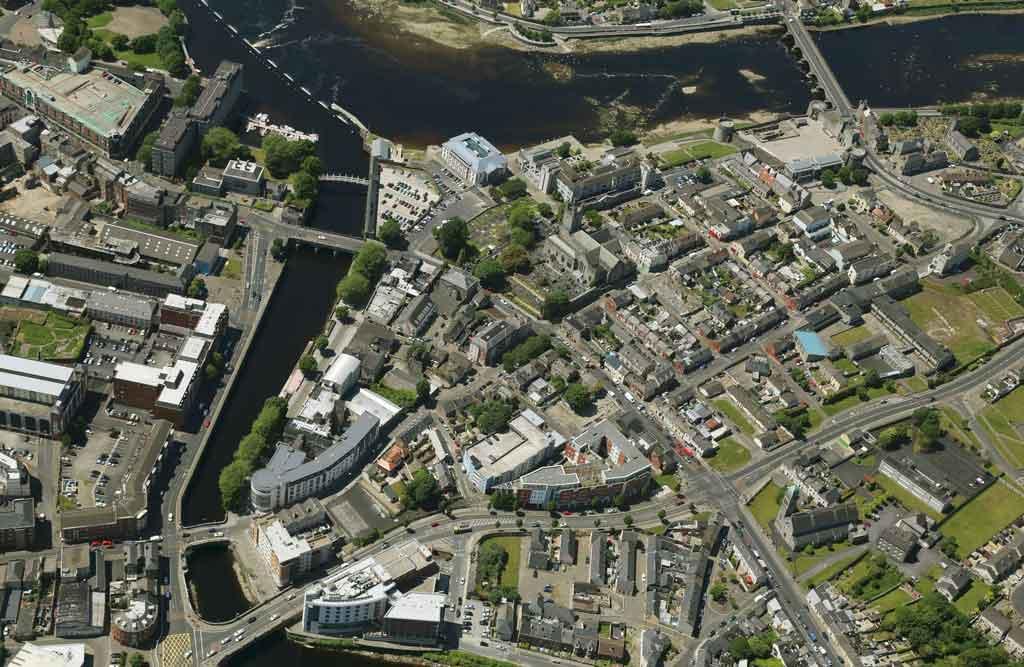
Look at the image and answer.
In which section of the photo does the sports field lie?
right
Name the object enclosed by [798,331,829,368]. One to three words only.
shed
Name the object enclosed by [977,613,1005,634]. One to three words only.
house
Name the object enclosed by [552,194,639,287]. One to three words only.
building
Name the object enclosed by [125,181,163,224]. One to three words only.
building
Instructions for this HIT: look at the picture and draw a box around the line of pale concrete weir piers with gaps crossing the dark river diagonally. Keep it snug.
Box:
[188,0,349,137]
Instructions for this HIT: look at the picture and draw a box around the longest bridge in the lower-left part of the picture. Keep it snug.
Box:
[188,583,303,649]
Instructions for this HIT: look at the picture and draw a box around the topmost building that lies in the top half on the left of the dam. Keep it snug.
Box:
[31,19,63,43]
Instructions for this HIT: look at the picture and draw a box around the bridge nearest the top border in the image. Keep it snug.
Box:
[779,16,858,109]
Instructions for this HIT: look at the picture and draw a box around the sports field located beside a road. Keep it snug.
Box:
[904,279,1024,367]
